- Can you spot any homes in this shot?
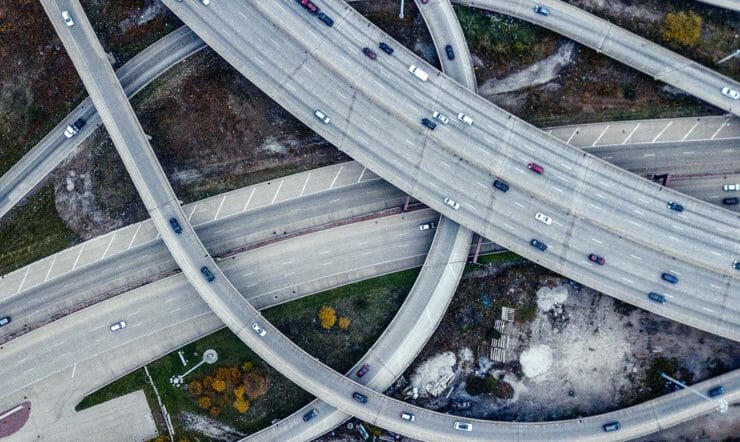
No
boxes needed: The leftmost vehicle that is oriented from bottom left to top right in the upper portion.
[66,119,84,136]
